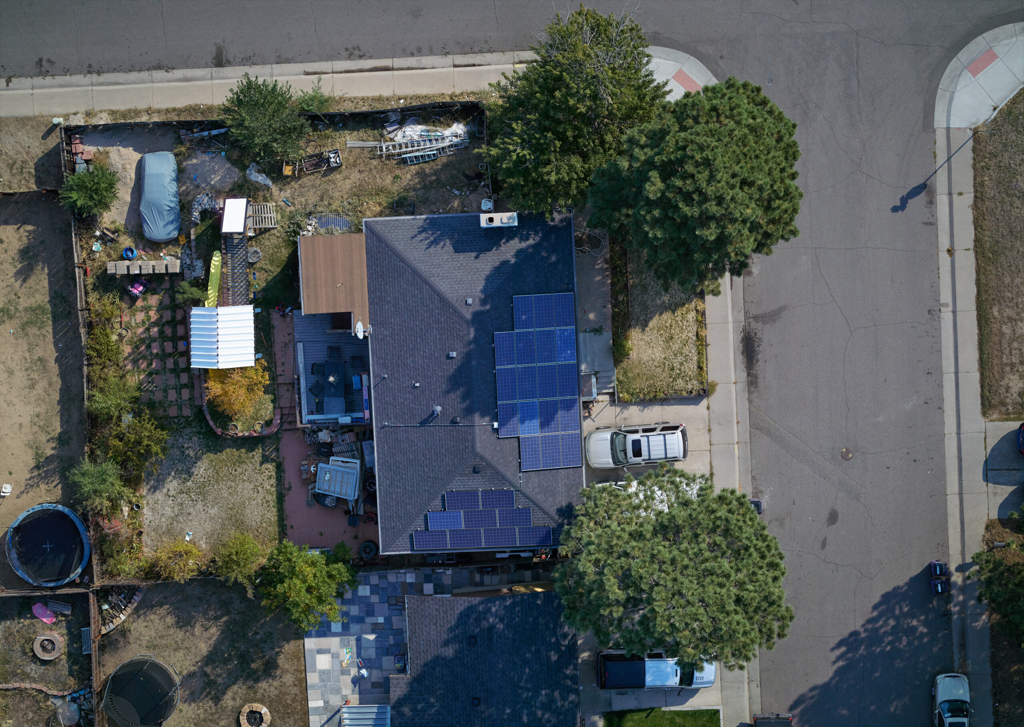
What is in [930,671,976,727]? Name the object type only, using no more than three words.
car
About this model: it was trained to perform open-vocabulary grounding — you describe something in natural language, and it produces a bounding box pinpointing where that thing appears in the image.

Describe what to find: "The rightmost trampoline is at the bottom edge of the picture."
[100,650,186,727]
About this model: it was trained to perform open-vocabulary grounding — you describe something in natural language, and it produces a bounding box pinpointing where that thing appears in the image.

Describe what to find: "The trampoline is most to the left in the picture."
[6,503,90,587]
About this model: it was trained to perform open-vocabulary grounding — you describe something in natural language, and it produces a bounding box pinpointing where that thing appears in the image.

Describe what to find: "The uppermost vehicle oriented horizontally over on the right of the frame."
[586,422,689,470]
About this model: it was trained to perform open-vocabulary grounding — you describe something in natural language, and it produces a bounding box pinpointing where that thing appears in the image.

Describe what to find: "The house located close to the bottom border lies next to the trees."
[388,581,581,727]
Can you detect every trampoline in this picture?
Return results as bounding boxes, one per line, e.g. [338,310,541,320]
[100,650,186,727]
[6,503,90,587]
